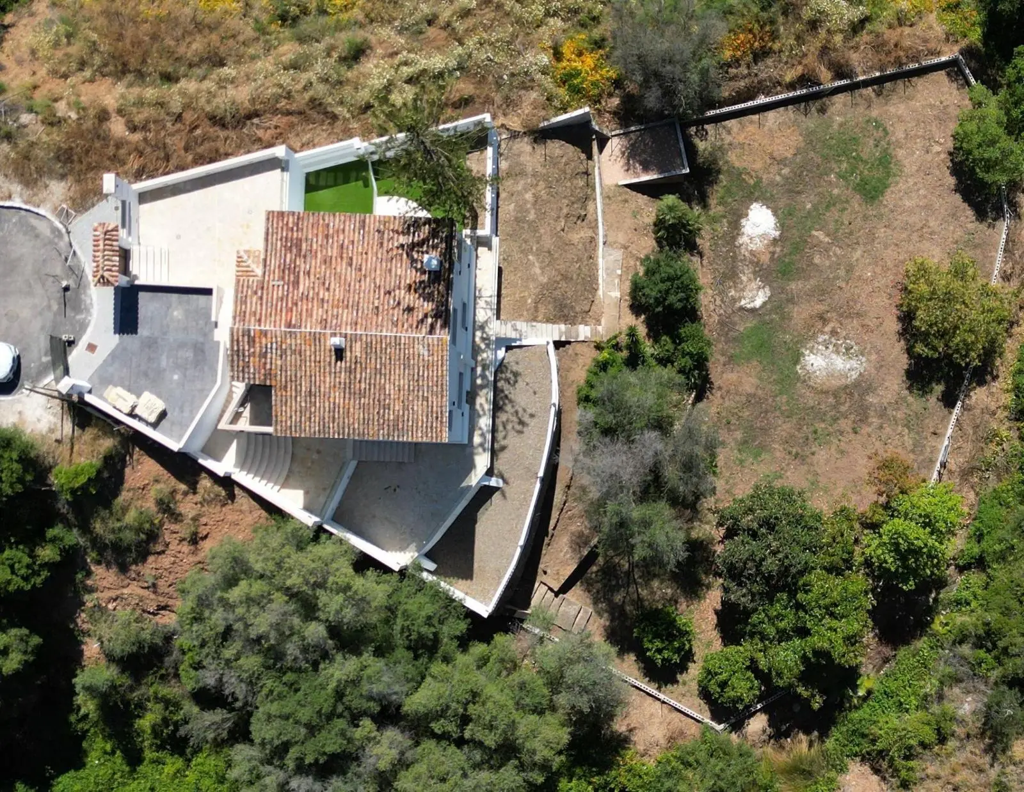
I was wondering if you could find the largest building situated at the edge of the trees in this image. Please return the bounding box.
[229,211,477,445]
